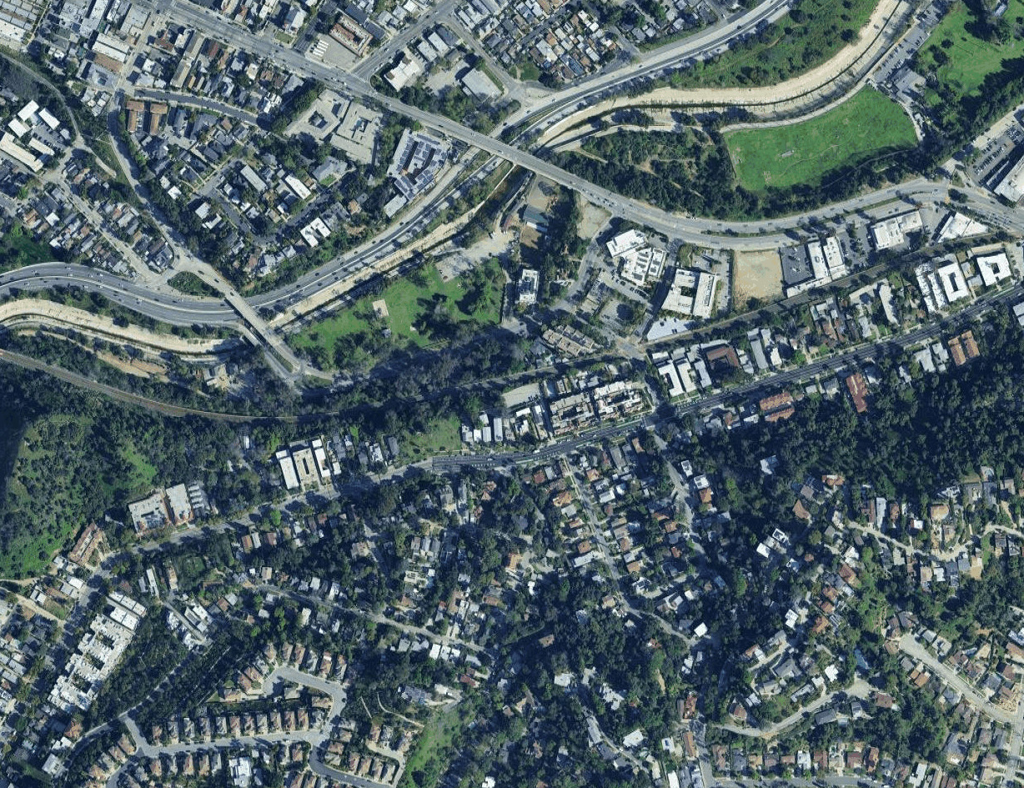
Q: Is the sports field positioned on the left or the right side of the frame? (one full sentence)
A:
You can find the sports field on the right side of the picture.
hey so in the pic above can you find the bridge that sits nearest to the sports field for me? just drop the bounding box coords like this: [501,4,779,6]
[430,112,557,180]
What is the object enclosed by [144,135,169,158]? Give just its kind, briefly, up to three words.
house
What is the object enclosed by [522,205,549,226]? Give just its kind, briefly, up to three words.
barn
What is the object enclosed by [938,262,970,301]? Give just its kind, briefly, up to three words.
building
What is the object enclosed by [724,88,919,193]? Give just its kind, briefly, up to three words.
sports field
